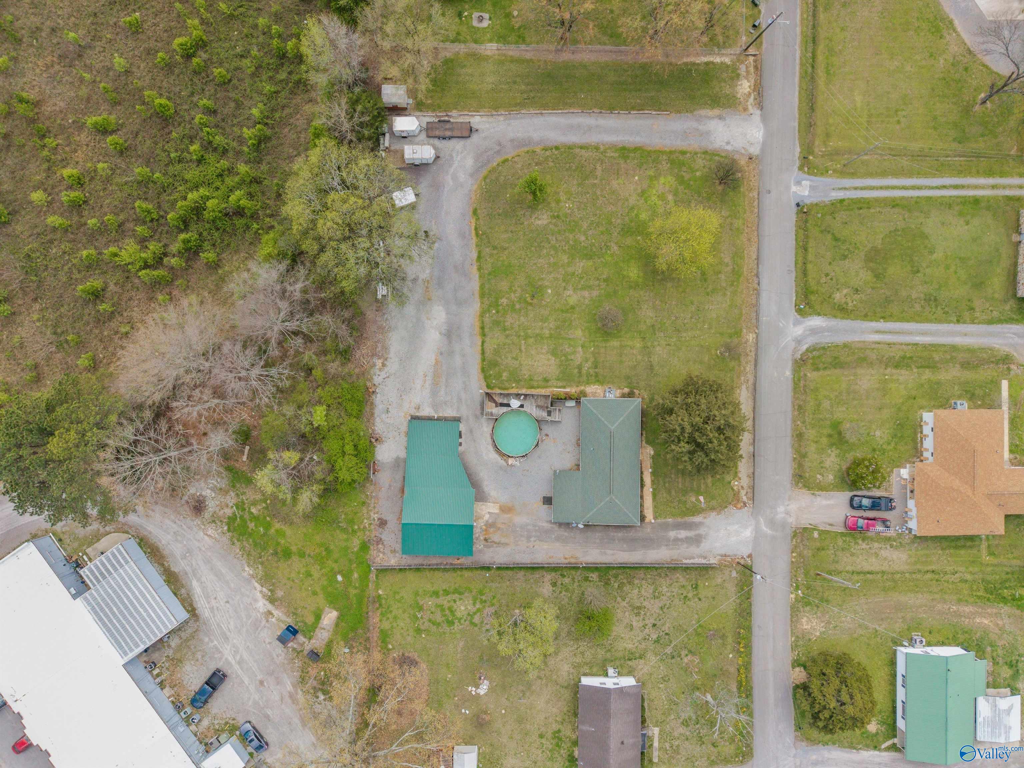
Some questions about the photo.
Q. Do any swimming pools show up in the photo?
Yes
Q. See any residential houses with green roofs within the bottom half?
Yes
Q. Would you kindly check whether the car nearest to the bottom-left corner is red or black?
red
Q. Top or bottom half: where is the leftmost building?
bottom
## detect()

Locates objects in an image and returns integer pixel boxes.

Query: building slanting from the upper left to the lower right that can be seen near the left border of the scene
[0,535,209,768]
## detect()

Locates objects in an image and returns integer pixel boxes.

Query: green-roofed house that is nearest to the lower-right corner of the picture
[896,647,987,767]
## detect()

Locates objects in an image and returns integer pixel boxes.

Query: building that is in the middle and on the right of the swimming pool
[552,398,642,526]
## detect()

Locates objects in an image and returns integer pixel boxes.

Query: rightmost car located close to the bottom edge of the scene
[239,719,270,754]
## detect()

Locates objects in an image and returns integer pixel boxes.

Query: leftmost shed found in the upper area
[382,85,407,110]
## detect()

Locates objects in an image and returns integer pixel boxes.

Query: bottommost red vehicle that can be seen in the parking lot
[8,734,33,758]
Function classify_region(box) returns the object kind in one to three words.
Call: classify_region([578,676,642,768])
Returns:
house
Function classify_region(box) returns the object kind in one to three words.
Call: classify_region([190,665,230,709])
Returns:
truck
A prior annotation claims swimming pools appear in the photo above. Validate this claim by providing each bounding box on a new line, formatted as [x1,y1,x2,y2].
[490,409,543,459]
